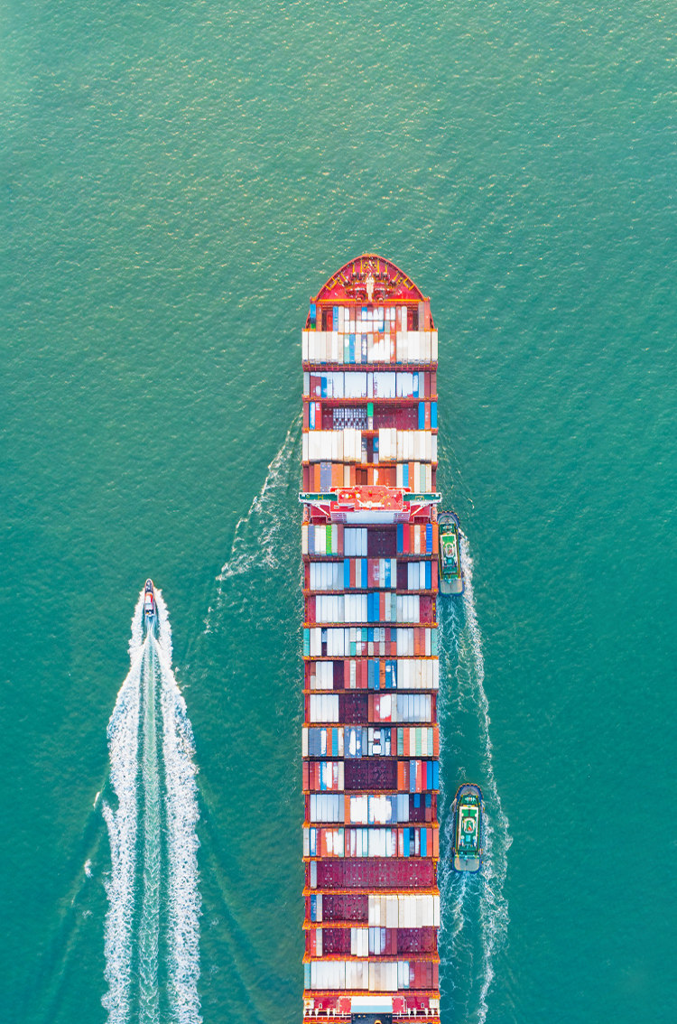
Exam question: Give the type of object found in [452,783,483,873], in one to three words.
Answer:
boat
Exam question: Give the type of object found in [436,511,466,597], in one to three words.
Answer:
boat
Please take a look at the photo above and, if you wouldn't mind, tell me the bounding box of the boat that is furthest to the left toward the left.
[144,579,156,618]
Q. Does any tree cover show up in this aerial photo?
No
